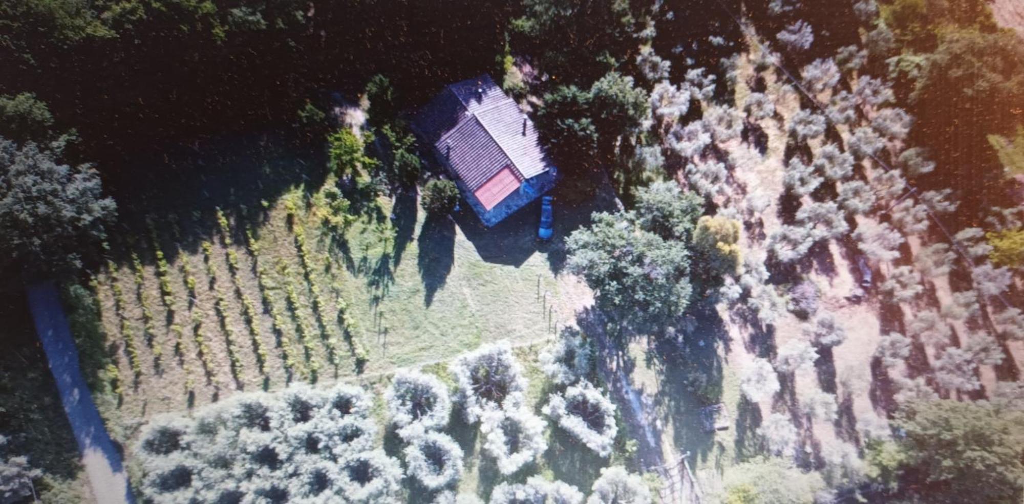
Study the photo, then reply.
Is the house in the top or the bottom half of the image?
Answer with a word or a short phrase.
top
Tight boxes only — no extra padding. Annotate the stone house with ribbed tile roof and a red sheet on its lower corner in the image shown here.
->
[411,70,565,227]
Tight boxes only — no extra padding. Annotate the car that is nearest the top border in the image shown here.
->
[536,198,555,241]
